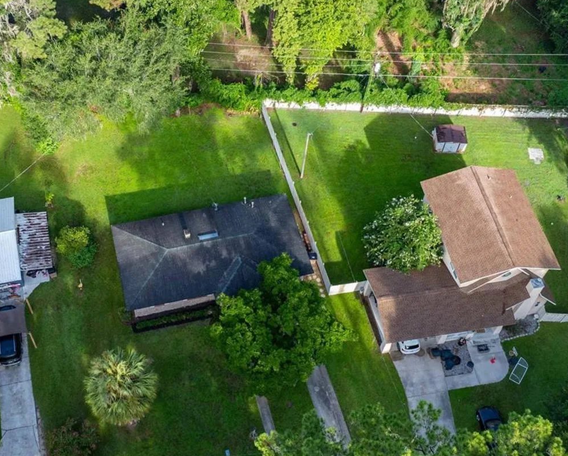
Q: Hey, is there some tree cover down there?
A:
Yes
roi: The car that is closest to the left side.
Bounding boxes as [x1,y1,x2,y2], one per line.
[0,333,23,361]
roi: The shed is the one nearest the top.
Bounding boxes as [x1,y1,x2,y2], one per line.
[432,124,470,153]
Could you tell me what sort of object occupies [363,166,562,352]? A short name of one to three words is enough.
house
